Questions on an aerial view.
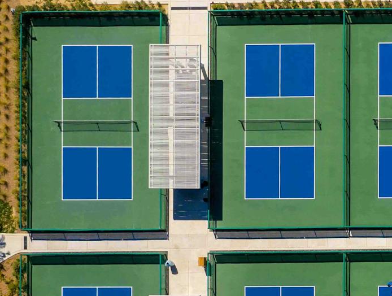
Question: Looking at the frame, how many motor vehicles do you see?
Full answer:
There are no motor vehicles in this view.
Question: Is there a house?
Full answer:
No, there's no house here.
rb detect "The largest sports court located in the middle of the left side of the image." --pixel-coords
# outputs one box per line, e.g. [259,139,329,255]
[27,13,168,231]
